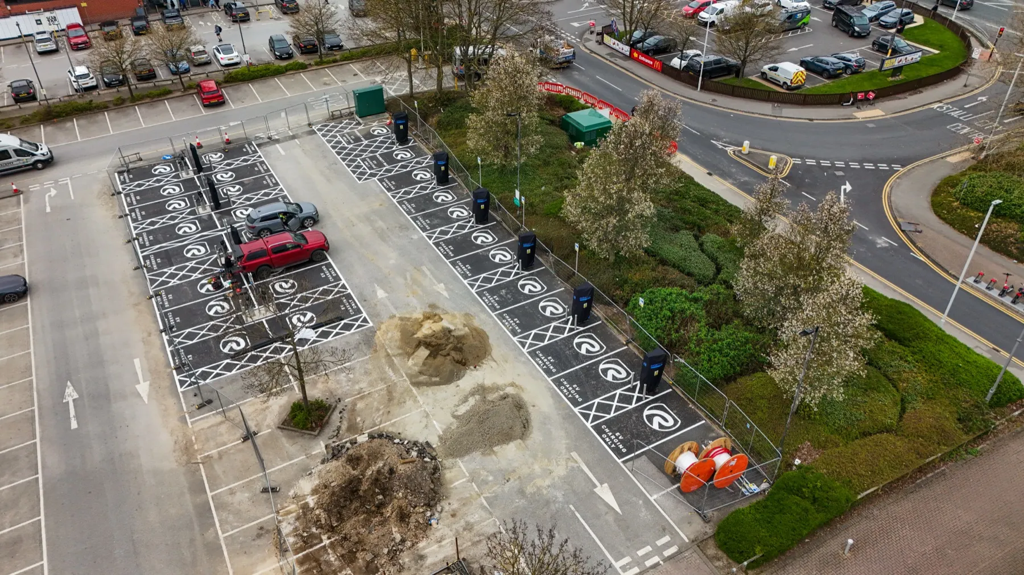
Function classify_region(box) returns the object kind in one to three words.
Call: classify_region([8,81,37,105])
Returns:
car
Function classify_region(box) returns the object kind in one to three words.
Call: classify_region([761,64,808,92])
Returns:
van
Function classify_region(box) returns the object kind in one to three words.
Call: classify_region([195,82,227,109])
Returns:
car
